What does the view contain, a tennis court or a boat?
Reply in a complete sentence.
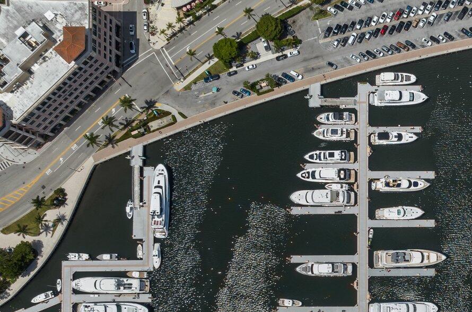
Visible in the photo is a boat.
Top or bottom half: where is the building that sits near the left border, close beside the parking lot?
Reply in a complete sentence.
The building that sits near the left border, close beside the parking lot sits in the top half of the picture.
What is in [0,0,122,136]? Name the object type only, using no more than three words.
building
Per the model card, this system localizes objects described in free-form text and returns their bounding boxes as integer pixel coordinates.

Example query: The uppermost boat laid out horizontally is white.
[375,71,416,86]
